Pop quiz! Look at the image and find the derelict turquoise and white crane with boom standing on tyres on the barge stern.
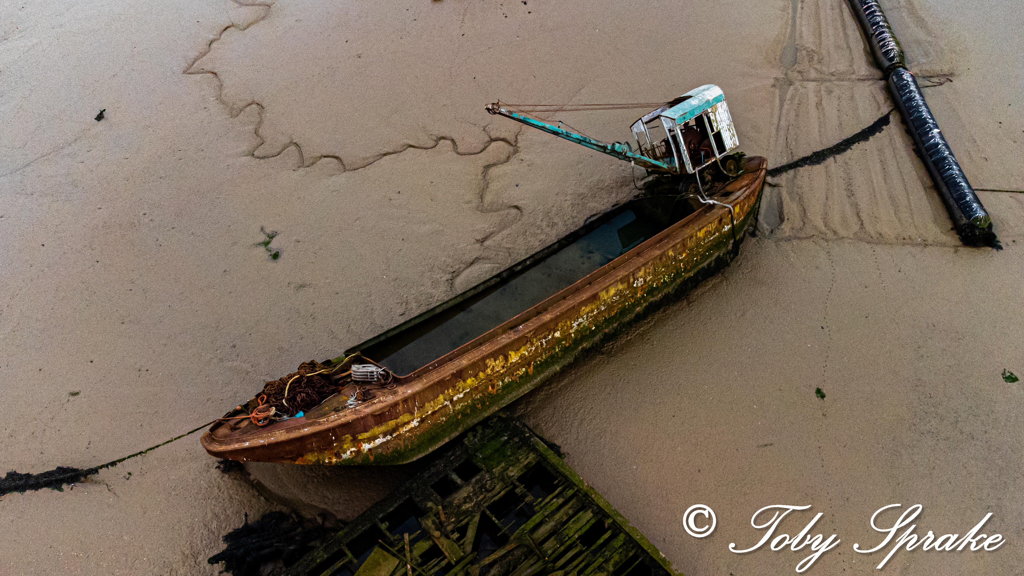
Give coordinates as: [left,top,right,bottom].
[483,87,740,201]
